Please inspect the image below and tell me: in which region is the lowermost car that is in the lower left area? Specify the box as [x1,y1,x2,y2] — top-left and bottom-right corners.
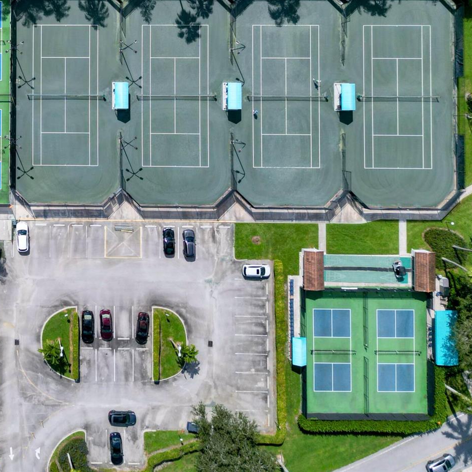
[109,431,125,463]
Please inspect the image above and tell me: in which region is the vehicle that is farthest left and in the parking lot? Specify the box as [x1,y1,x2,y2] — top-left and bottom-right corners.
[15,222,29,252]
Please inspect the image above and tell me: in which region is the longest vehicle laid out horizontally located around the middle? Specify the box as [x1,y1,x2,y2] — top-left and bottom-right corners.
[240,264,270,279]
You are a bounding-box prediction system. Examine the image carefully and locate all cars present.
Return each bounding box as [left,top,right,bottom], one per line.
[81,311,95,341]
[162,227,176,256]
[182,228,197,259]
[106,410,137,427]
[99,309,113,339]
[109,431,125,463]
[240,264,270,279]
[136,312,150,343]
[424,450,456,472]
[15,222,29,252]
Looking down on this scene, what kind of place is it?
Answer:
sports ground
